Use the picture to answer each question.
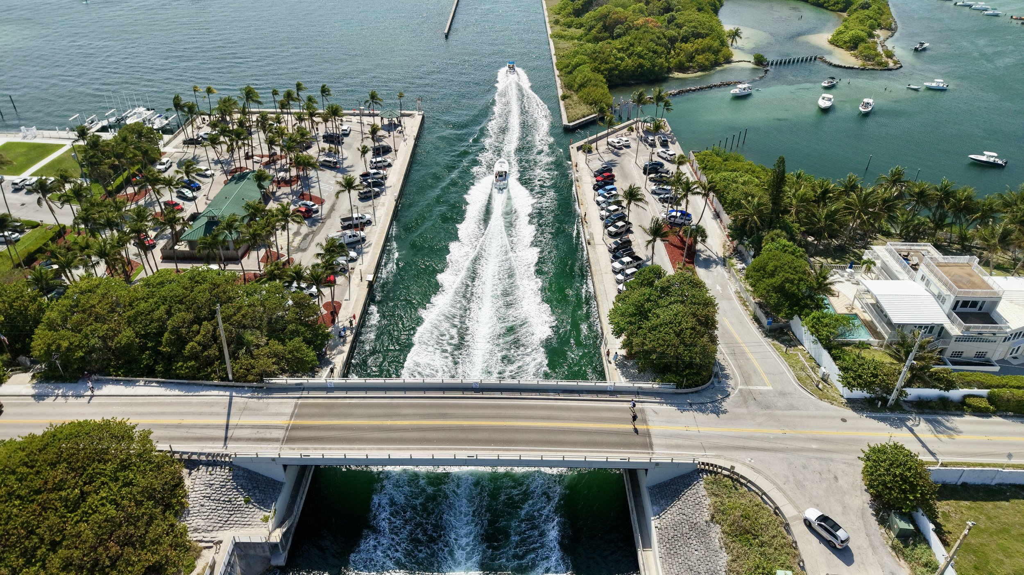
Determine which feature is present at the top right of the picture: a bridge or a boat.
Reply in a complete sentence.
It is a boat that can be seen at the top right of the picture.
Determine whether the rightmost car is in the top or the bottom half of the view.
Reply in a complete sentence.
You can find the rightmost car in the bottom half.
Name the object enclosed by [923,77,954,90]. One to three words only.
boat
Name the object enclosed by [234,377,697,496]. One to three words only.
bridge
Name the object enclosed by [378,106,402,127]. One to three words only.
gazebo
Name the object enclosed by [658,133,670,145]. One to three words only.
vehicle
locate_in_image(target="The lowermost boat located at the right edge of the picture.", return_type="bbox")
[962,142,1019,171]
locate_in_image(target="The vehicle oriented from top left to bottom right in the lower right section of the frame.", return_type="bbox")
[800,505,860,553]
